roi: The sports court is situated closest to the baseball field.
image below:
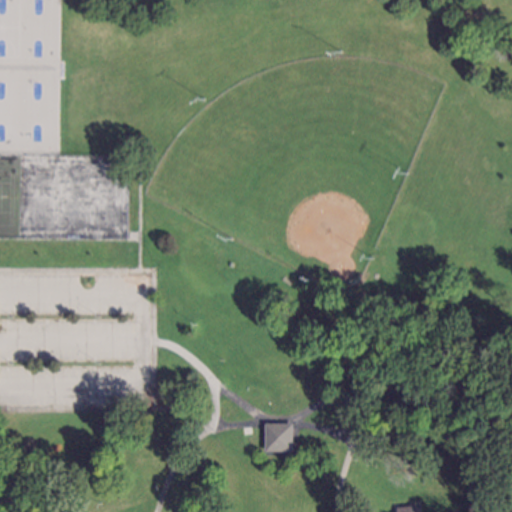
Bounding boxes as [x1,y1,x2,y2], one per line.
[19,155,128,238]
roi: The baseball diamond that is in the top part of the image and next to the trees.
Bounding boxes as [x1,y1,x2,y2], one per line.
[146,55,445,288]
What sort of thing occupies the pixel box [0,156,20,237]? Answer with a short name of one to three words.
tennis court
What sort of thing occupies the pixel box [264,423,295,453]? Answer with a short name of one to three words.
building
